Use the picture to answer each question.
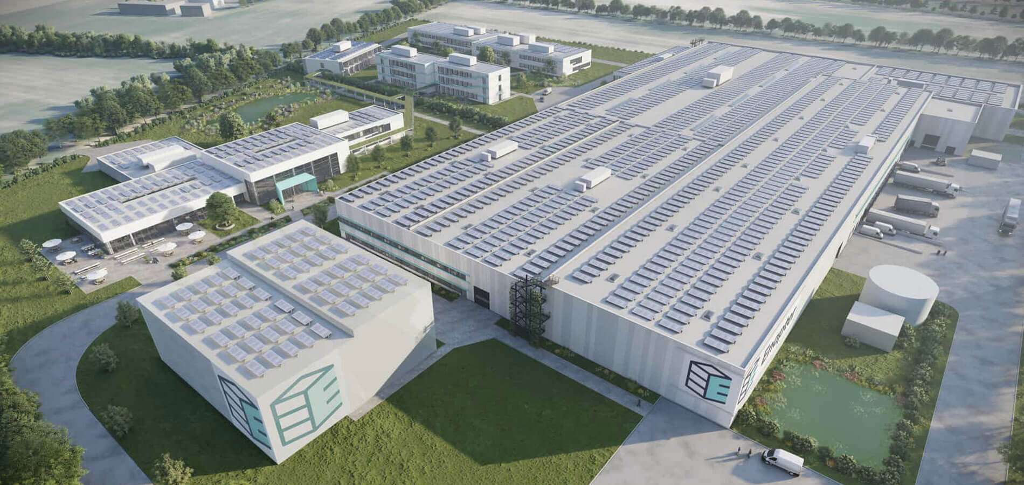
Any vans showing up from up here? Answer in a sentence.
Yes, there's a van down there.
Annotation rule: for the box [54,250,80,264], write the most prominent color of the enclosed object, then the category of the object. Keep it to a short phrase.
white umbrella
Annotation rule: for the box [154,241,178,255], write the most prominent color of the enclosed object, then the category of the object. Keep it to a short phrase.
white umbrella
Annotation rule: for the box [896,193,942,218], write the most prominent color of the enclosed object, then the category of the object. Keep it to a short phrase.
gray truck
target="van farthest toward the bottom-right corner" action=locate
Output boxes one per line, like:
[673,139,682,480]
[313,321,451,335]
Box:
[763,448,806,479]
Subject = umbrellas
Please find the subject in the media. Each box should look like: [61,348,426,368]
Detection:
[54,250,80,264]
[154,241,178,255]
[40,237,65,251]
[84,267,109,282]
[185,230,208,243]
[173,221,195,234]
